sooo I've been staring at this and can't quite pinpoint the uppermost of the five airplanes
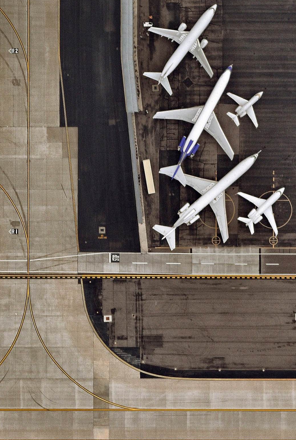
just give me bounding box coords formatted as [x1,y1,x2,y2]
[143,4,218,94]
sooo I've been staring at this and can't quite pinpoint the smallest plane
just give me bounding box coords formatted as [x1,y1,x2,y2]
[226,91,263,128]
